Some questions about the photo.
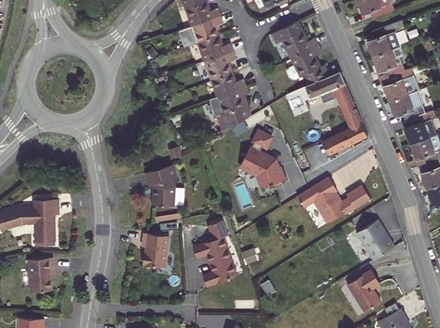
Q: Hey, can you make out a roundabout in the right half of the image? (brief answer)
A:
No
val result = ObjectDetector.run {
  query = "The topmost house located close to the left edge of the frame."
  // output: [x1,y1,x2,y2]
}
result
[0,199,60,246]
